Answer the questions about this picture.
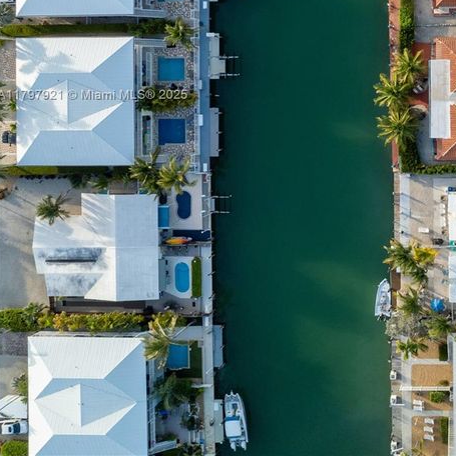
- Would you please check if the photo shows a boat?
Yes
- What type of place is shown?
residential area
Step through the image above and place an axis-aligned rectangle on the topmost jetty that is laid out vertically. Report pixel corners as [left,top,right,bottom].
[210,34,226,78]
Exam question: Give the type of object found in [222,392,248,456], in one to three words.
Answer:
boat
